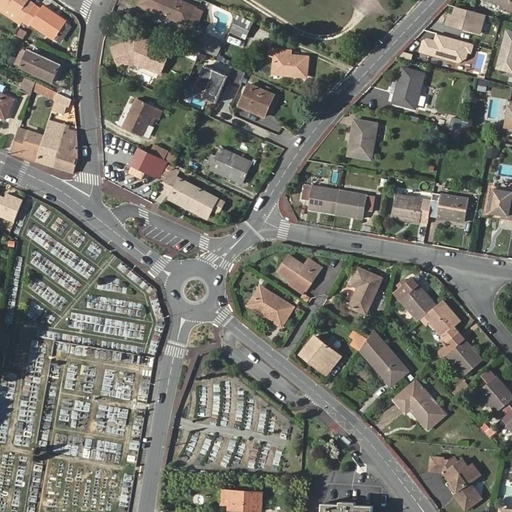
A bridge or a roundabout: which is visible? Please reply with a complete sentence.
It is a roundabout that can be seen here.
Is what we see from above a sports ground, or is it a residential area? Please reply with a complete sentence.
What you see here is a residential area.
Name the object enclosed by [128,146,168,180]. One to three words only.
building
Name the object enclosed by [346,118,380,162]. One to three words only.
house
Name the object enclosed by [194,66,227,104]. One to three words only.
house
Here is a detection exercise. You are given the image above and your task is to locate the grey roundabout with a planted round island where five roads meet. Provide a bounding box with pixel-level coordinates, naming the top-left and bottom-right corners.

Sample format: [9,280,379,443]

[164,260,226,321]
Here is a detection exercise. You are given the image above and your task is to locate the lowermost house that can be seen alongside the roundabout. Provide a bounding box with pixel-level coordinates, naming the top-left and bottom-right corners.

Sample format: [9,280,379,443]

[246,286,295,328]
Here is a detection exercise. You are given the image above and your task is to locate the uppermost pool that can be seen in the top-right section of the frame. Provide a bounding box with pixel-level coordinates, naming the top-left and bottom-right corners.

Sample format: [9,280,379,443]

[474,51,487,71]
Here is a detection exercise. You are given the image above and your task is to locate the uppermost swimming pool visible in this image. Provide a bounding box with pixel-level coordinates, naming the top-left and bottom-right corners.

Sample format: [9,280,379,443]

[214,10,229,32]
